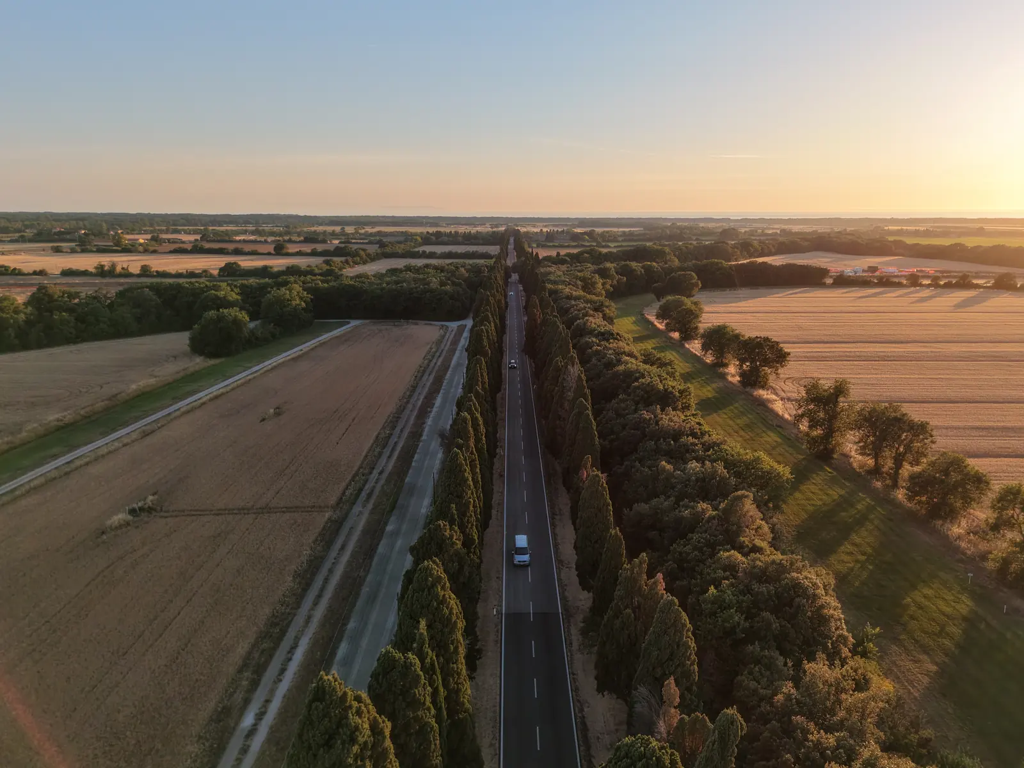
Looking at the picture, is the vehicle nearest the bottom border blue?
Yes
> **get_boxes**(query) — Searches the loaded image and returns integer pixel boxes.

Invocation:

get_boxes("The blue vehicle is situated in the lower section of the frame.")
[512,535,532,564]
